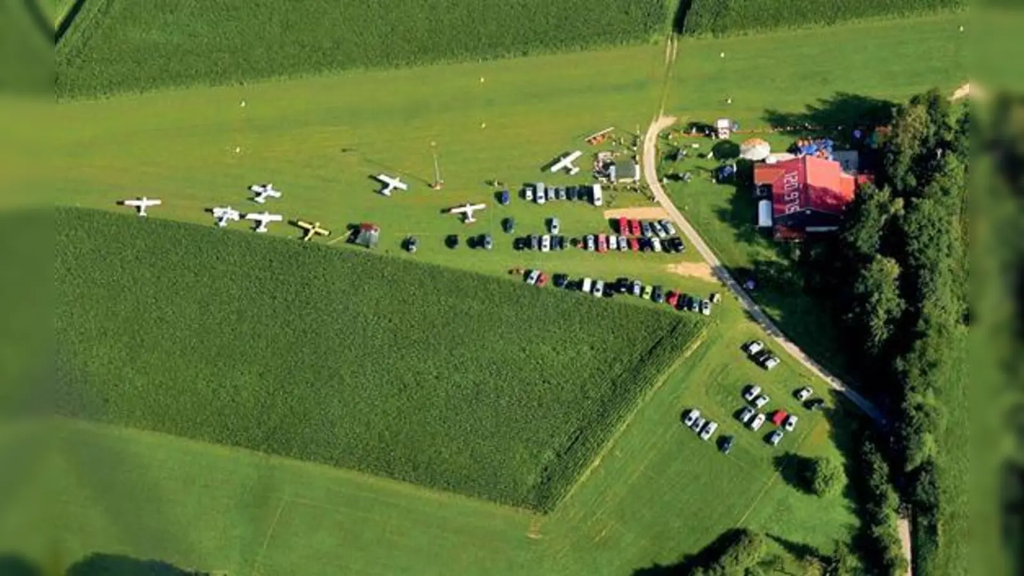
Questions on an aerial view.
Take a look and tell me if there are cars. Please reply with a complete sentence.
Yes, this view includes a car.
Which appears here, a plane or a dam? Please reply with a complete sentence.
It is a plane that can be seen here.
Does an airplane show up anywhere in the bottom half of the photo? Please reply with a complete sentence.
No, the scene shows no airplane in the bottom half of the photo.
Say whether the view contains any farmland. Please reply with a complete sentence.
Yes, the picture does contain farmland.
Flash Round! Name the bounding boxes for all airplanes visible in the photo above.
[549,151,583,175]
[213,208,241,227]
[376,174,408,196]
[245,211,283,232]
[250,183,283,203]
[123,197,161,217]
[296,218,332,241]
[449,204,487,224]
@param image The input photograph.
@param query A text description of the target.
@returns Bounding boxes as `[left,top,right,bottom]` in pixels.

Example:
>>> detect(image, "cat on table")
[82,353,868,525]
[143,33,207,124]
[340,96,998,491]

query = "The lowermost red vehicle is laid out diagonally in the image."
[769,408,788,429]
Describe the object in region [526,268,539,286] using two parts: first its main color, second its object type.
white vehicle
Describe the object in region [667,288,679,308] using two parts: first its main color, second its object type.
red vehicle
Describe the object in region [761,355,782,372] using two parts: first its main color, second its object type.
white car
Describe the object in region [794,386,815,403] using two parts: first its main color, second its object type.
white car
